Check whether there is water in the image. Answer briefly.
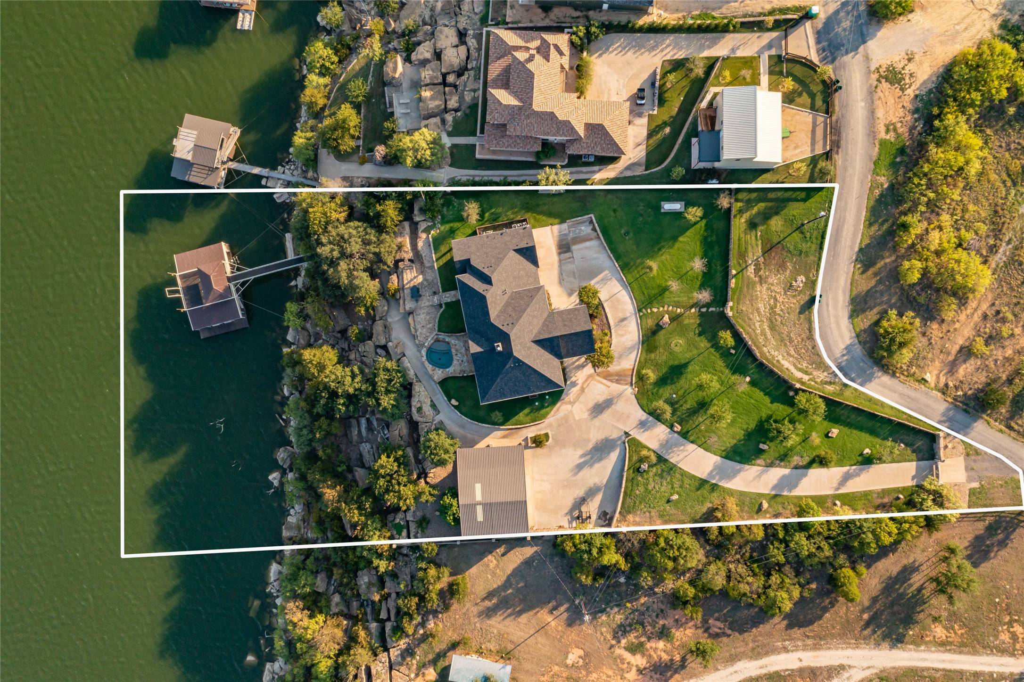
Yes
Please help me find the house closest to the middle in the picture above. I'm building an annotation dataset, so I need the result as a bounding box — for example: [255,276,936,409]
[451,226,596,404]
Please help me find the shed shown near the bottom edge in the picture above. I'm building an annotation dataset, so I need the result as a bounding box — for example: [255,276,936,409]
[447,648,512,682]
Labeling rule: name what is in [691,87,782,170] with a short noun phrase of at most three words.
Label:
barn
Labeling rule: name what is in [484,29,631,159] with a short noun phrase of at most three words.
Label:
house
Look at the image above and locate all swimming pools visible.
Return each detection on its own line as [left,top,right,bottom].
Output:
[424,340,454,370]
